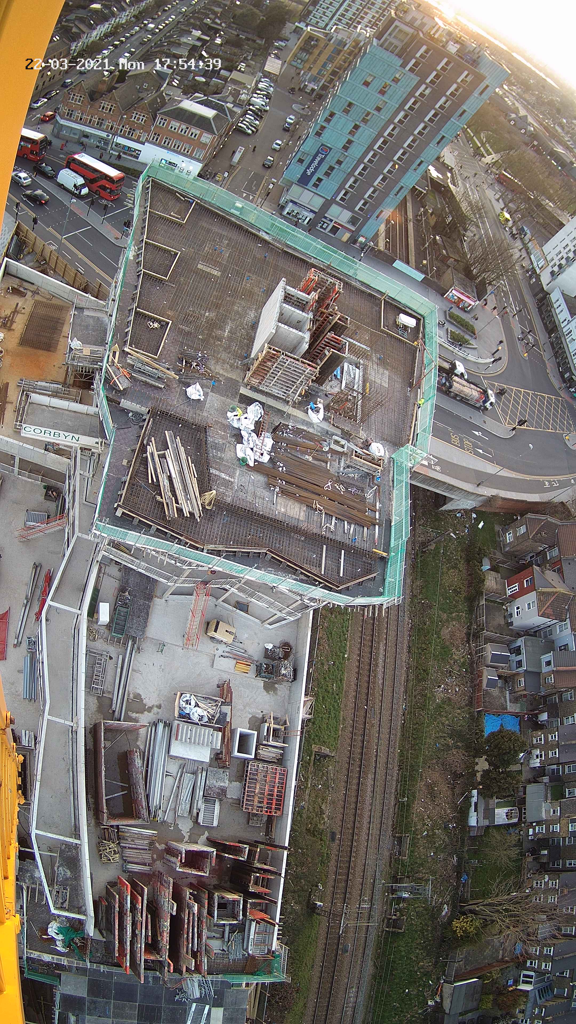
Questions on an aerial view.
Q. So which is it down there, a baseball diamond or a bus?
bus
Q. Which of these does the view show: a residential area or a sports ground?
residential area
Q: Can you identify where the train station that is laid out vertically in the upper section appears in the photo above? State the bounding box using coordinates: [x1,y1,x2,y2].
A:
[406,186,433,275]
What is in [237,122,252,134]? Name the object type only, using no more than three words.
vehicle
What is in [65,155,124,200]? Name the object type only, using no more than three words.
bus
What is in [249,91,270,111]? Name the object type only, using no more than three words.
vehicle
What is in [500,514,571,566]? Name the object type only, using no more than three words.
house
